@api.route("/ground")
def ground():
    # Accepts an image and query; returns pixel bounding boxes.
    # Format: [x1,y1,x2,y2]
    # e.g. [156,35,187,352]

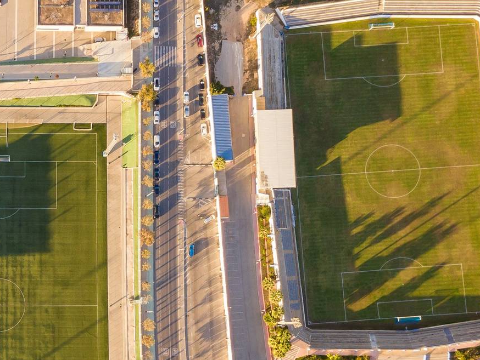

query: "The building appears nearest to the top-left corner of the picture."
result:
[35,0,76,32]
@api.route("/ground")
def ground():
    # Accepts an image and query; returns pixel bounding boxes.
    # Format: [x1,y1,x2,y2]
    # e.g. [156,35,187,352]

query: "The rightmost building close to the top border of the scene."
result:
[259,5,286,30]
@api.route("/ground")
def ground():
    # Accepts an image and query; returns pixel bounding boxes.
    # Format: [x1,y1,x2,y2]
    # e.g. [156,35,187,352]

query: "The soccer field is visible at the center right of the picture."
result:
[284,19,480,329]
